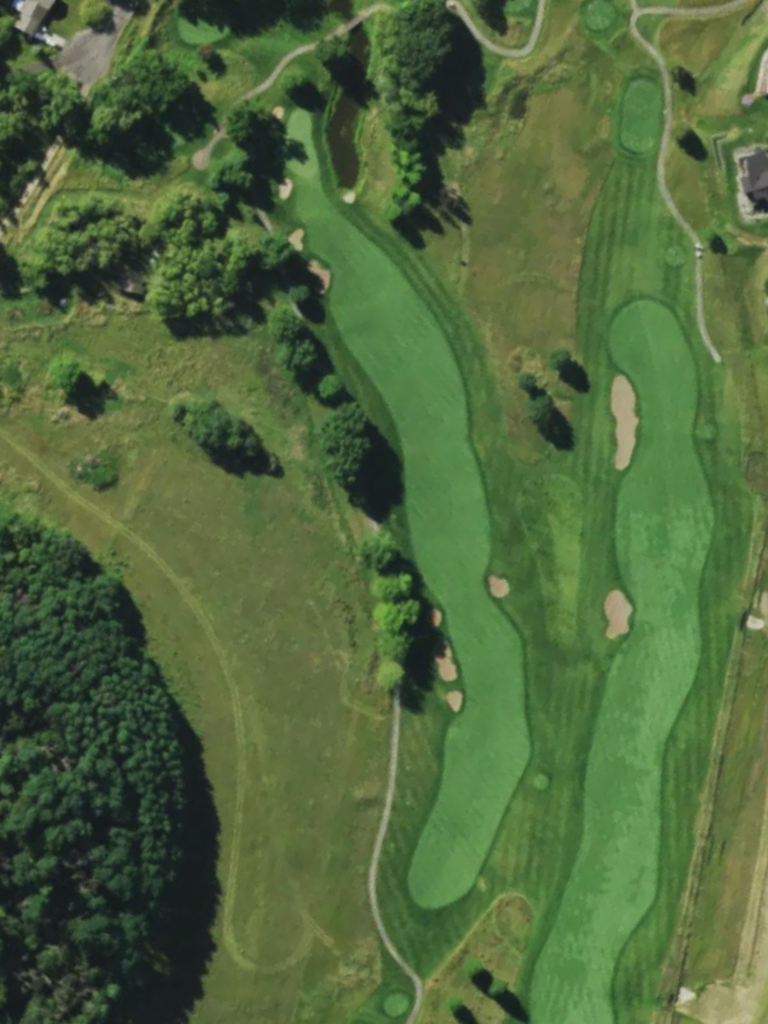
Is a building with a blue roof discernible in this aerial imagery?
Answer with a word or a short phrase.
No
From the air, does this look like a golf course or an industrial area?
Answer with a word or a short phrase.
golf course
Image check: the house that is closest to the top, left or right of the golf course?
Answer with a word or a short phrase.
left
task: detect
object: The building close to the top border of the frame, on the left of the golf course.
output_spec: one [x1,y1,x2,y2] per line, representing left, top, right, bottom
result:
[16,0,55,39]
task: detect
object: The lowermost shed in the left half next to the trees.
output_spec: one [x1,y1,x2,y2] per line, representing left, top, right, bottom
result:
[123,272,145,292]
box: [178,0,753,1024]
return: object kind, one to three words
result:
golf course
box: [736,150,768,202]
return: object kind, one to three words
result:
house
